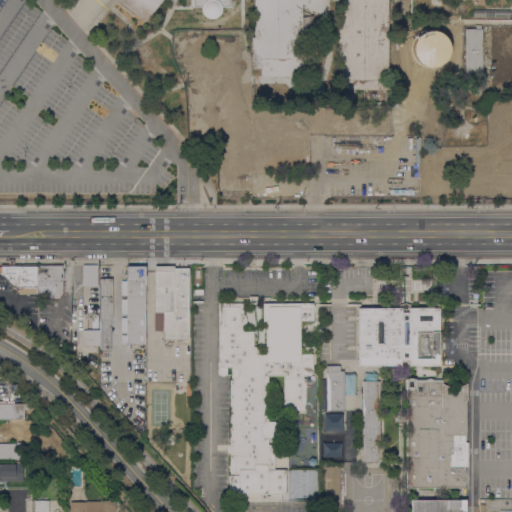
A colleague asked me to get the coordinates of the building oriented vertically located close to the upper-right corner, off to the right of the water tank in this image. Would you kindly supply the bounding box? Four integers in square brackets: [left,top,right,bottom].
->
[464,29,483,72]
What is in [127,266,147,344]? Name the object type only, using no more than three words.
building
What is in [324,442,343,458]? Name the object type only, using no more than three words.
building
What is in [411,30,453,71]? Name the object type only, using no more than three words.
water tank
